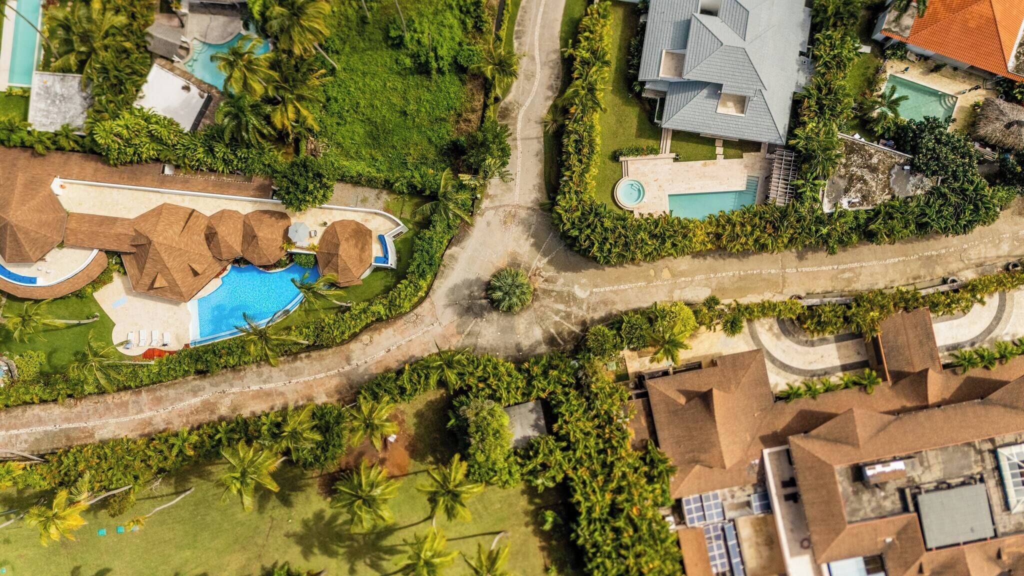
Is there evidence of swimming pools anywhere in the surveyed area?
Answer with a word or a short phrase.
Yes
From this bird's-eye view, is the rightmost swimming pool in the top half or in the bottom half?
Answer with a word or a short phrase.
top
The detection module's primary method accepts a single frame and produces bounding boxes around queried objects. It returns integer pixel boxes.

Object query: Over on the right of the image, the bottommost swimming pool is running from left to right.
[669,176,759,225]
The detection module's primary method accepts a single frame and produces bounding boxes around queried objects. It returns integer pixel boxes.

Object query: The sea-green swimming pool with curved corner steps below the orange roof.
[885,71,962,140]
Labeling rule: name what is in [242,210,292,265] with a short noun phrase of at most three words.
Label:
building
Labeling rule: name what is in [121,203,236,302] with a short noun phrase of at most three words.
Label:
house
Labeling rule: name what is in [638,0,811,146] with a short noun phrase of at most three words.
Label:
house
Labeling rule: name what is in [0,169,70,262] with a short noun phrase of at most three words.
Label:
building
